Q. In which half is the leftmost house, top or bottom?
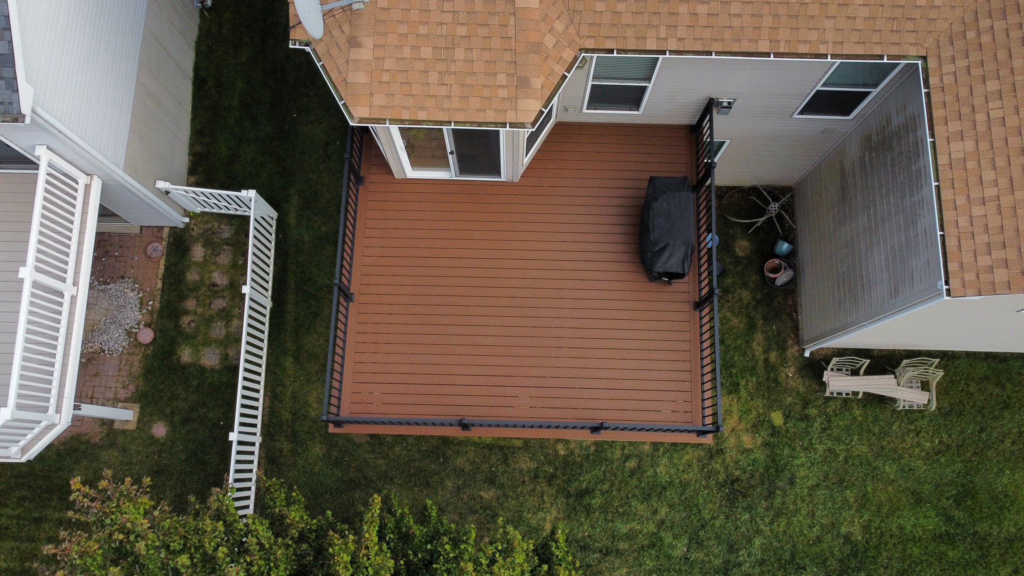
top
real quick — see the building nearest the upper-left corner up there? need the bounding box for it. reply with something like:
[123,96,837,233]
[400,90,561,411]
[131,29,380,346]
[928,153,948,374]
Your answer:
[0,0,199,232]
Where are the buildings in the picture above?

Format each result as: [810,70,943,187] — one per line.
[0,0,199,232]
[286,0,1024,362]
